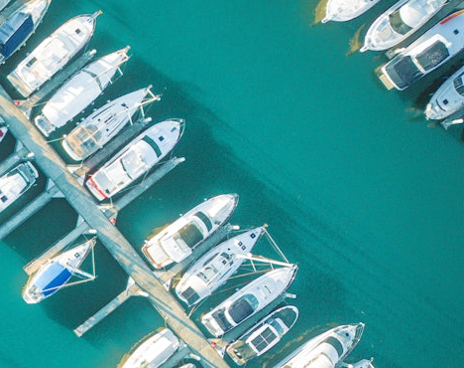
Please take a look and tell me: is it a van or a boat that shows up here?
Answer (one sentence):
Visible in the photo is a boat.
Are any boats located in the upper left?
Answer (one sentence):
Yes, I can see a boat in the upper left.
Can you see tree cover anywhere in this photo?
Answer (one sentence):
No, there is no tree cover in the image.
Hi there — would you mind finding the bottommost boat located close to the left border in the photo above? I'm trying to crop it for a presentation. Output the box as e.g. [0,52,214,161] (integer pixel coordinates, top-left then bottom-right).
[20,238,97,305]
